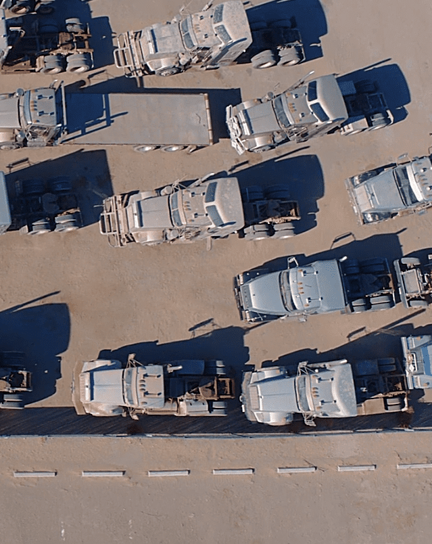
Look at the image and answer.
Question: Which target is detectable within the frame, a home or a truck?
truck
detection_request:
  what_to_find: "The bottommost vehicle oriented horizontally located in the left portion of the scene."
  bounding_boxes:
[69,350,238,425]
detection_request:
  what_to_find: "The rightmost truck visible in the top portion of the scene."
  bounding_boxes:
[344,152,432,227]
